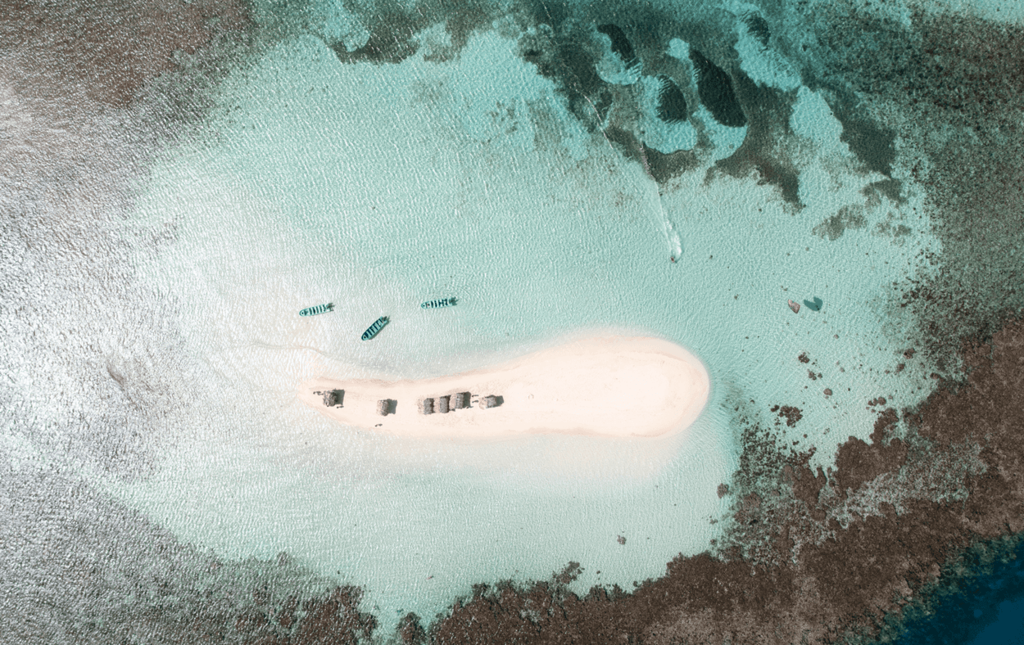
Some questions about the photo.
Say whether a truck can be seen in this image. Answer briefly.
No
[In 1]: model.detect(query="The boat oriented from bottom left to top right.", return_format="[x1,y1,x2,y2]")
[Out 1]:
[361,317,387,340]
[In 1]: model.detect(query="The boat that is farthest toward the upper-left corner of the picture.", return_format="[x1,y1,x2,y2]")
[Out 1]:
[299,304,333,316]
